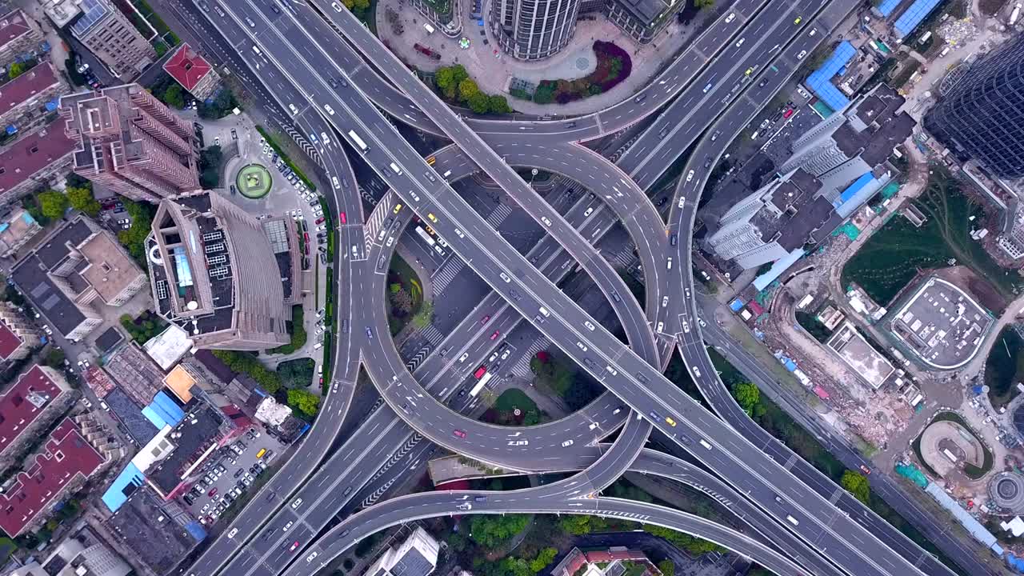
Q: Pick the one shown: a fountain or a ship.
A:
fountain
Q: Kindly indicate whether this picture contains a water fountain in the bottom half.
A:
No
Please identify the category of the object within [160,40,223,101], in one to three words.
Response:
house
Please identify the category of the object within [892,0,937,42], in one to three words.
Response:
shed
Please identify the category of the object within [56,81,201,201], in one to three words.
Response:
building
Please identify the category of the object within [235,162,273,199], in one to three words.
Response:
fountain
